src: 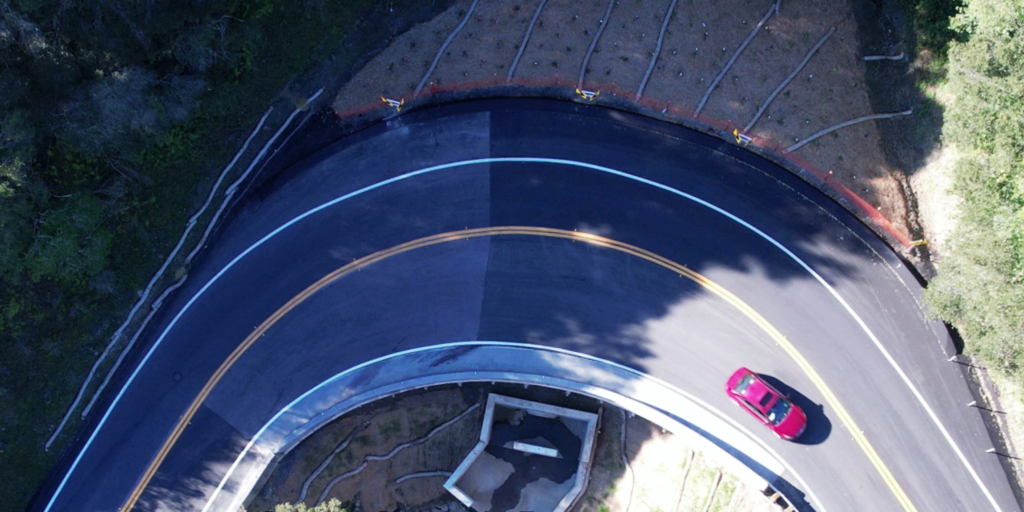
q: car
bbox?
[726,366,813,445]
